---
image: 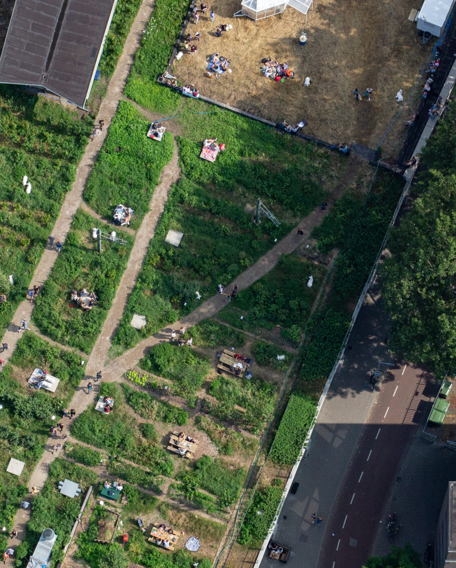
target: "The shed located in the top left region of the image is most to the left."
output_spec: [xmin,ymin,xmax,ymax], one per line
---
[0,0,113,111]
